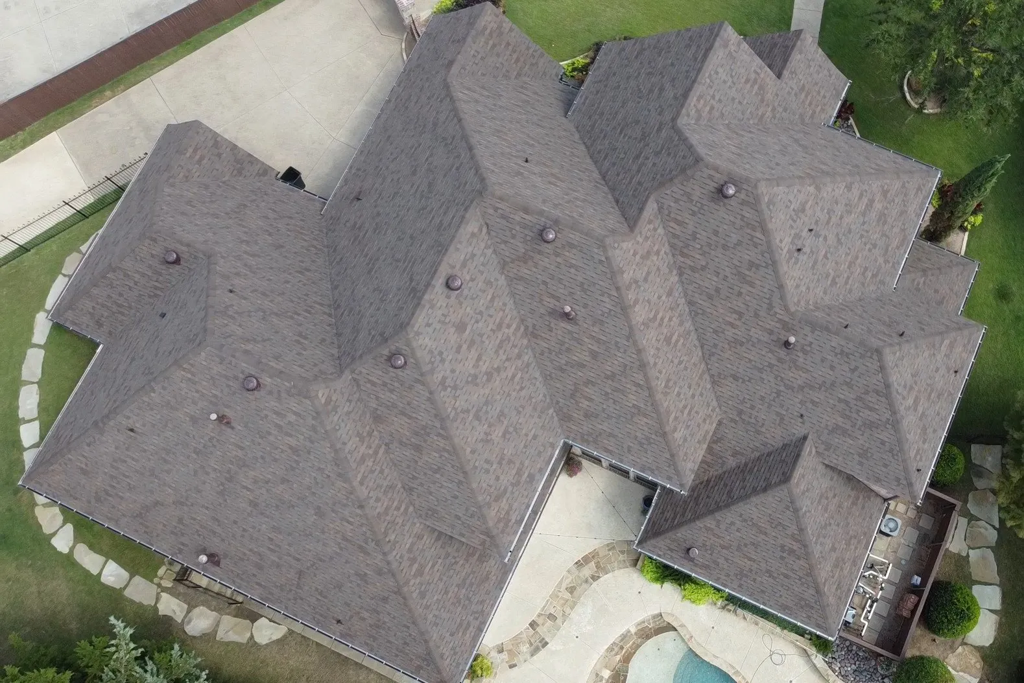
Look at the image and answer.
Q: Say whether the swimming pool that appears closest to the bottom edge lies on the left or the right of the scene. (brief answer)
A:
right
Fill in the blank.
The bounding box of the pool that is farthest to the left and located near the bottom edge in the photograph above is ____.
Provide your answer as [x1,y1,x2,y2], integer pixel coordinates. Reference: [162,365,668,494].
[588,612,754,683]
